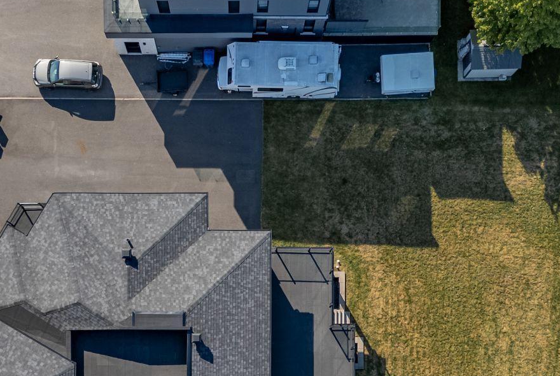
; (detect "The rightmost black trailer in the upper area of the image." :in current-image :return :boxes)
[139,68,187,98]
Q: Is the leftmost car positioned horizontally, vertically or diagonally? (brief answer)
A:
horizontally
